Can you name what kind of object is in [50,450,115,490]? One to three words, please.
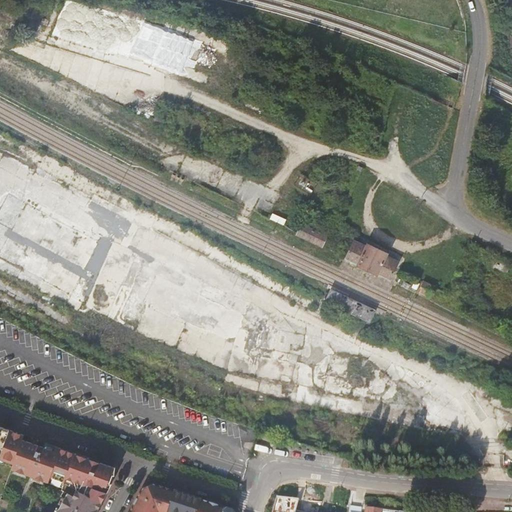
building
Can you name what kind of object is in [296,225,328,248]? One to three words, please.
shed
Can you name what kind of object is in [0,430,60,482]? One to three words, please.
building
